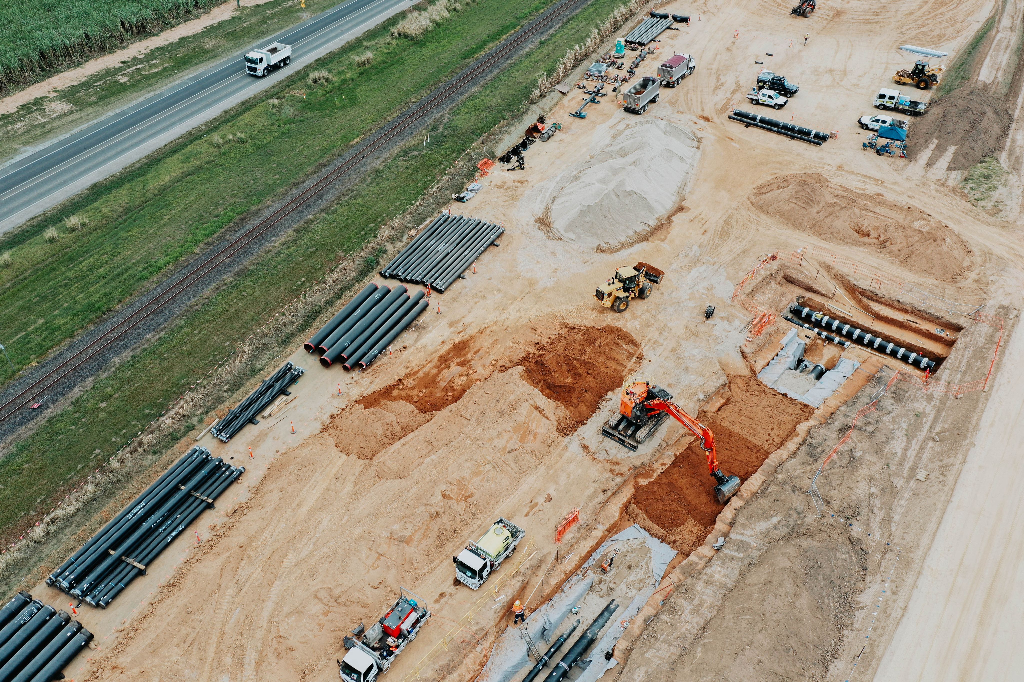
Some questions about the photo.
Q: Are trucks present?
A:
Yes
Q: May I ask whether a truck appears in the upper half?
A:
Yes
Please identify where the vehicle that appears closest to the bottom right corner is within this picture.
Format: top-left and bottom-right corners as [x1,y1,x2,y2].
[594,363,736,504]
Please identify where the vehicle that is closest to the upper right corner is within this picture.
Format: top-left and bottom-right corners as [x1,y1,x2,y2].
[893,61,942,90]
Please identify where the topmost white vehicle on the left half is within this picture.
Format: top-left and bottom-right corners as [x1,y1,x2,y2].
[239,42,291,75]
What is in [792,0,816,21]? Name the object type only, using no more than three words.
work vehicle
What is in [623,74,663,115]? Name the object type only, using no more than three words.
trailer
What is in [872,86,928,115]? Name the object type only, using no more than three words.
truck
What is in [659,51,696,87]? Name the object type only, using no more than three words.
truck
